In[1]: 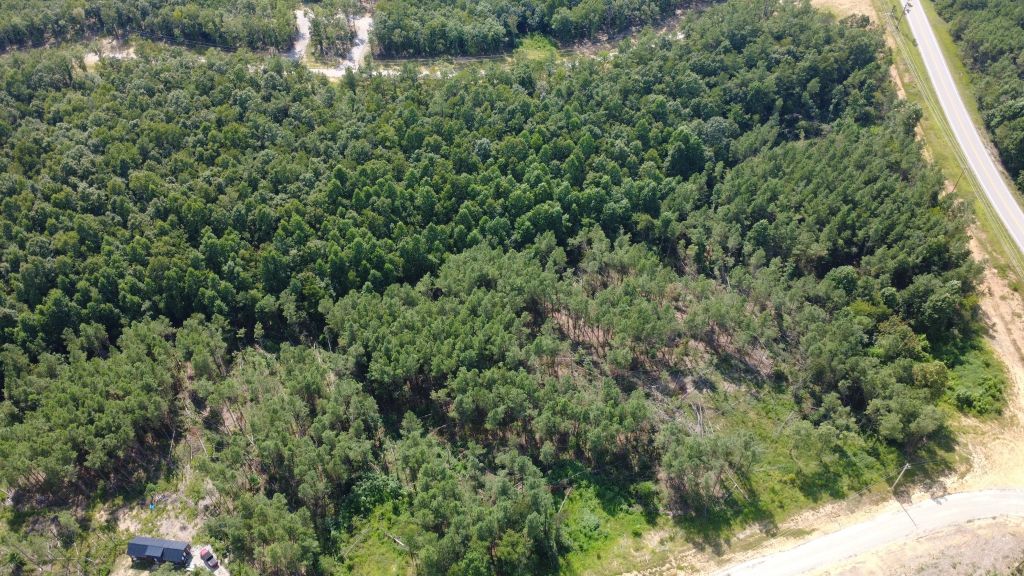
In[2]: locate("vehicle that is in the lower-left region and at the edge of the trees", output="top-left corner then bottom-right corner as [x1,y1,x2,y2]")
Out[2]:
[199,547,218,567]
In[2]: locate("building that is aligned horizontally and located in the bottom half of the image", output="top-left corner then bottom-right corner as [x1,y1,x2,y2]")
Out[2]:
[125,536,196,569]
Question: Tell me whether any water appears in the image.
No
